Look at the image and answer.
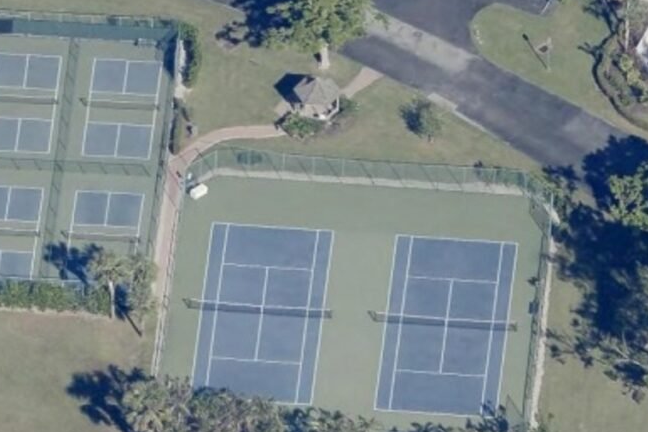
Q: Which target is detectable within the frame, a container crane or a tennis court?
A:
tennis court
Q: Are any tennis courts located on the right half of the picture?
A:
Yes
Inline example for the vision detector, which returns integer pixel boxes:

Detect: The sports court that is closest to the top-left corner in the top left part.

[0,53,62,153]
